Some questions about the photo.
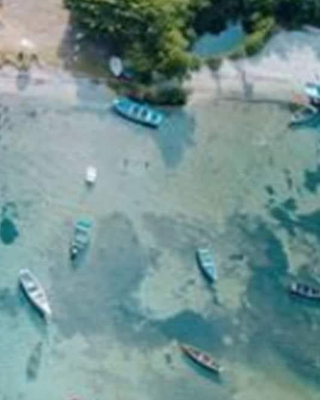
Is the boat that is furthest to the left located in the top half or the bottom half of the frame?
bottom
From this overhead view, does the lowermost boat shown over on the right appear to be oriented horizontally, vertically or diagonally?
diagonally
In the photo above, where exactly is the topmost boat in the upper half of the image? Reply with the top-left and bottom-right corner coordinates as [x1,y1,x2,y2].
[109,58,122,78]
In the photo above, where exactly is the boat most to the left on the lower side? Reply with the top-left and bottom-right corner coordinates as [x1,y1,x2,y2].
[20,269,50,326]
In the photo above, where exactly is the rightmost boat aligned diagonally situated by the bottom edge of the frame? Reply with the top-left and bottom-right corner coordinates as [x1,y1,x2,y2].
[178,343,230,383]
